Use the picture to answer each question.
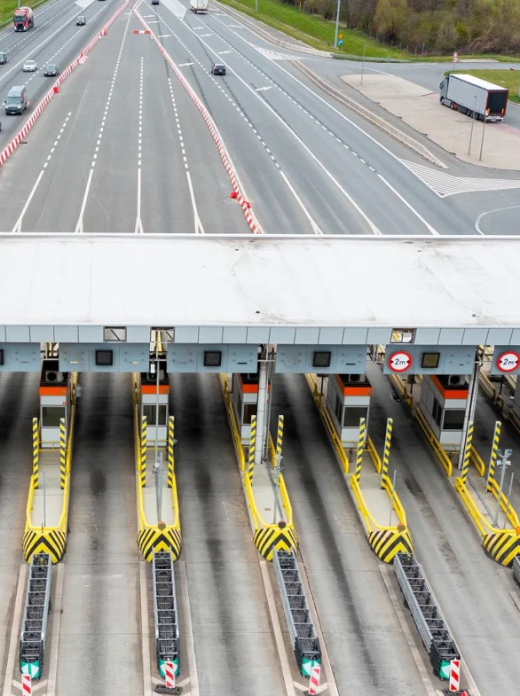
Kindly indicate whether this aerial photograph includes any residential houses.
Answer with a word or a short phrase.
No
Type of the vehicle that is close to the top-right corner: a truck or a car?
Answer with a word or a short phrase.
truck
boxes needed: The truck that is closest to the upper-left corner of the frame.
[9,0,38,30]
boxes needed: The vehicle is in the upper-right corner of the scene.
[440,73,512,121]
